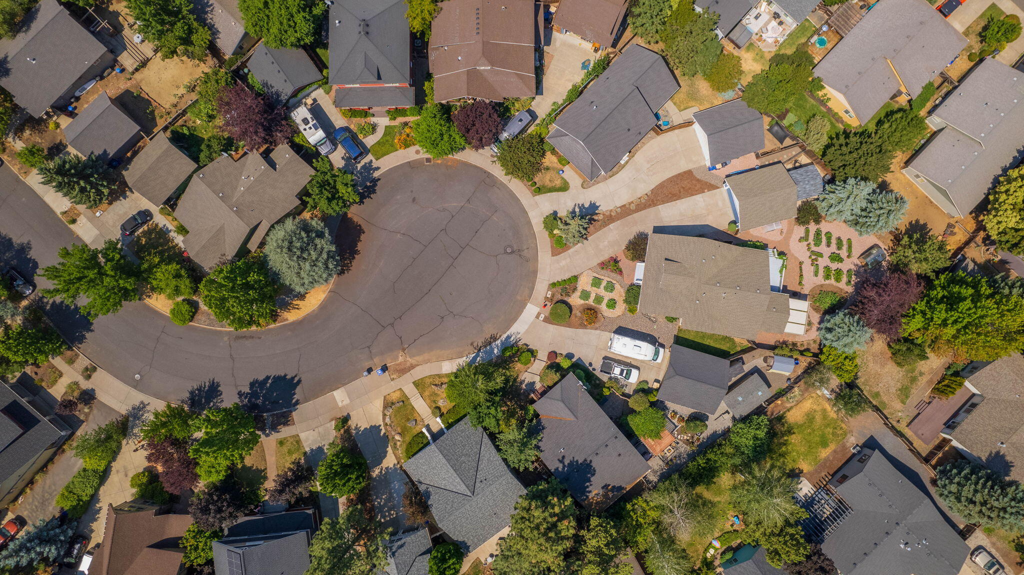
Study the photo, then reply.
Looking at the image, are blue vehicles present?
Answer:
Yes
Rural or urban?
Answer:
urban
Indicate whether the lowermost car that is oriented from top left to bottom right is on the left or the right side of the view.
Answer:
right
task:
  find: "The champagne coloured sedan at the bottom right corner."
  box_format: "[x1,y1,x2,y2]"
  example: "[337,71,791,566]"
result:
[969,545,1005,575]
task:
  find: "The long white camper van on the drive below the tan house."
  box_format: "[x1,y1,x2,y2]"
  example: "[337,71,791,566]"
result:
[605,330,662,359]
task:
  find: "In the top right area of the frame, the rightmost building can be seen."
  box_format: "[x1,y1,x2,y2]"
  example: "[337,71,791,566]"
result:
[901,58,1024,219]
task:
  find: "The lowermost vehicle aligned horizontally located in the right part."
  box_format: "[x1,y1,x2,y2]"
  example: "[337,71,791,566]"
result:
[597,358,642,383]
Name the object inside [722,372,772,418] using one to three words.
shed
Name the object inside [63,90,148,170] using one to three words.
building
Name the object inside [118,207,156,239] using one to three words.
car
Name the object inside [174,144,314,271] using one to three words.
house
